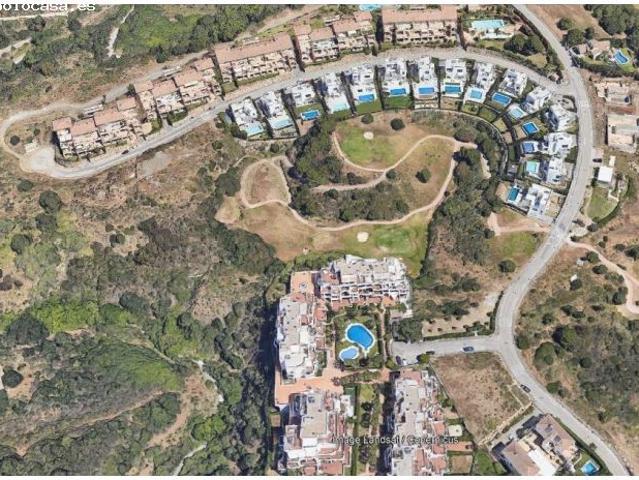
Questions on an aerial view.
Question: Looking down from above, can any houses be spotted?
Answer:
Yes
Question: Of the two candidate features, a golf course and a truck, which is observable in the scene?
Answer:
golf course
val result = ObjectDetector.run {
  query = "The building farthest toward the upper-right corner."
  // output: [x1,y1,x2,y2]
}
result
[575,39,614,61]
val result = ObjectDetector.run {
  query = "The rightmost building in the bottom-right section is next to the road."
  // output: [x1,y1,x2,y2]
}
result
[499,414,577,480]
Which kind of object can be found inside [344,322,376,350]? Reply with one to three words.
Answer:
swimming pool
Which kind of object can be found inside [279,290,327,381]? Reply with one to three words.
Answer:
building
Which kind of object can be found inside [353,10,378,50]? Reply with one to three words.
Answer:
house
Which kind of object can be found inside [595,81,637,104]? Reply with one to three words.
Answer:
building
